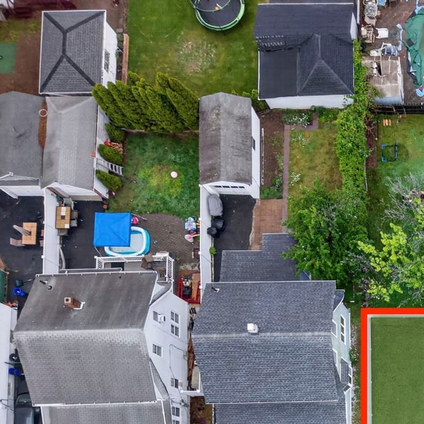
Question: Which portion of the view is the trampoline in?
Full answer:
The trampoline appears toward the top of the photo.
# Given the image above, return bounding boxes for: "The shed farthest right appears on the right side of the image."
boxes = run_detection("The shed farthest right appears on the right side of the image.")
[363,55,403,104]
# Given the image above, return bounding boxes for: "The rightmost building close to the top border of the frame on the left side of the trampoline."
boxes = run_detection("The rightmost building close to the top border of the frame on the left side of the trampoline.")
[38,9,120,97]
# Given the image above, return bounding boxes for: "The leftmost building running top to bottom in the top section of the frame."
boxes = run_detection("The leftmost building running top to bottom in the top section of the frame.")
[0,92,46,193]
